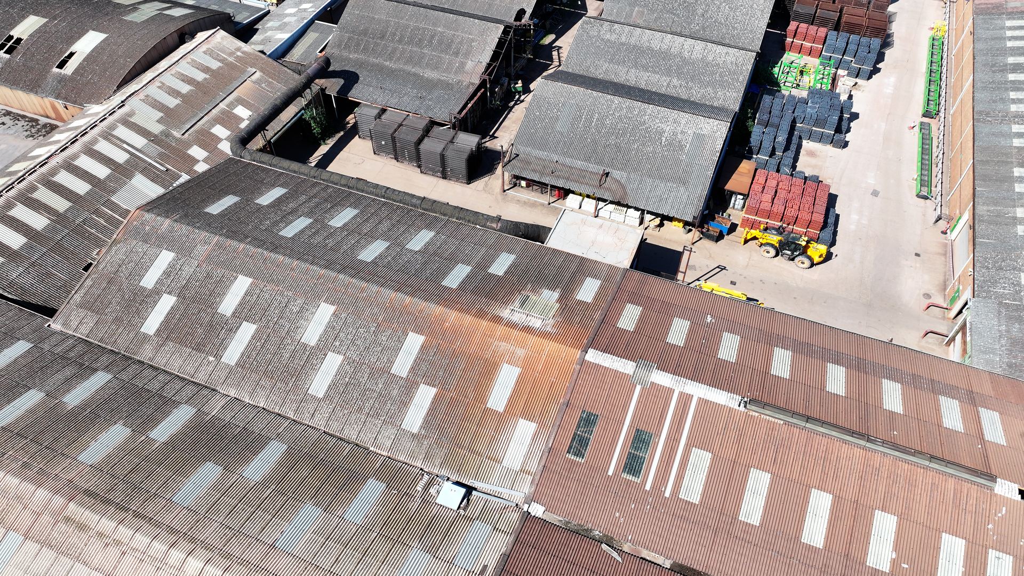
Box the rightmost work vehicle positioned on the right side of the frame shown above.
[736,221,832,268]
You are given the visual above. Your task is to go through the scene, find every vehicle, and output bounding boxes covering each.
[694,283,769,307]
[736,221,832,268]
